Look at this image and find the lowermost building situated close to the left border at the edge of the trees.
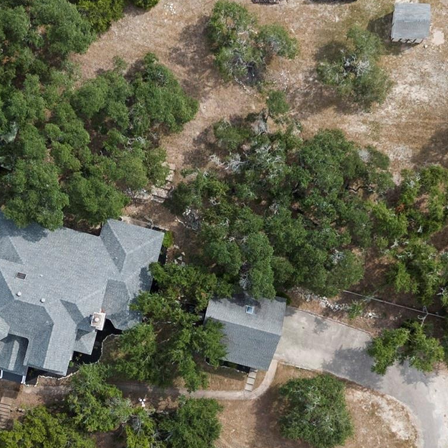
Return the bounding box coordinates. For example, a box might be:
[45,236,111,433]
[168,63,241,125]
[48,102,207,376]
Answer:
[0,211,165,386]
